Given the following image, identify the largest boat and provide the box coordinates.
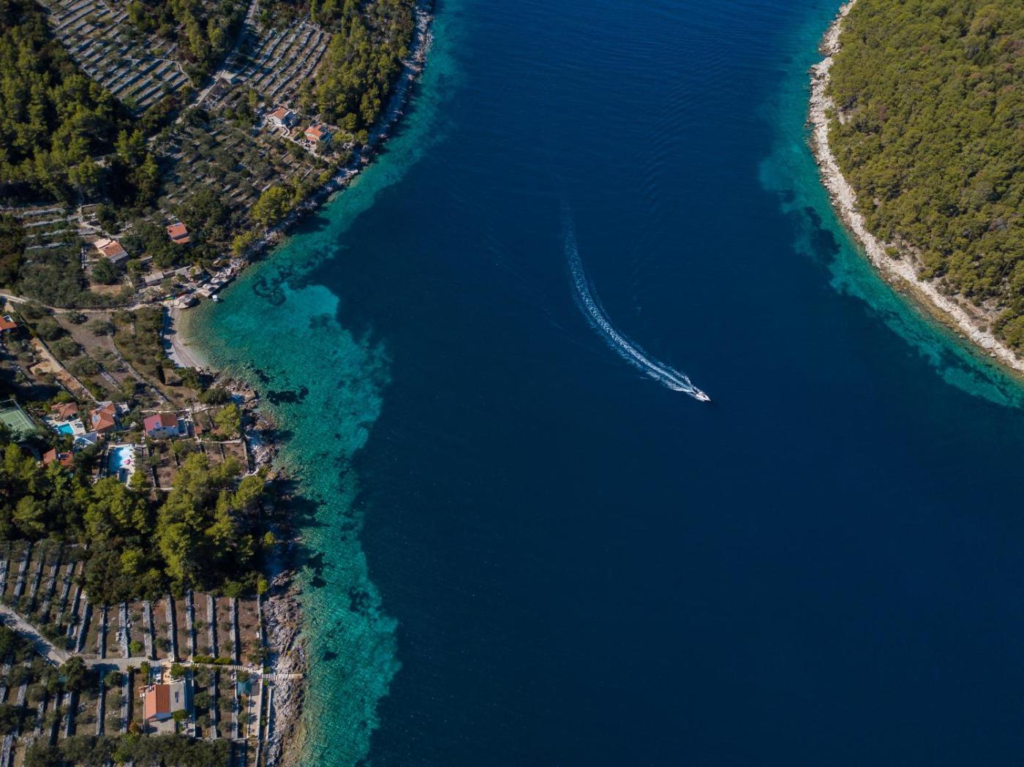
[691,385,710,398]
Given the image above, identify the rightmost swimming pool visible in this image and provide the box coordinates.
[107,441,137,484]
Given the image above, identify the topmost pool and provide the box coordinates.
[49,416,86,439]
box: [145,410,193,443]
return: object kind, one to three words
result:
house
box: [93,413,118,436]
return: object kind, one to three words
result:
house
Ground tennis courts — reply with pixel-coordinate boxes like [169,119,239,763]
[0,392,46,455]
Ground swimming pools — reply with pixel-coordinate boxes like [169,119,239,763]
[107,441,137,484]
[49,416,86,439]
